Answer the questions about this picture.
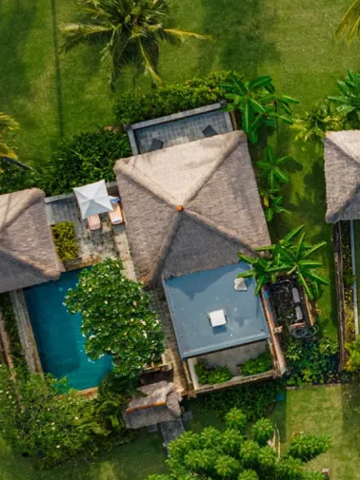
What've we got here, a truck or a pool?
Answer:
pool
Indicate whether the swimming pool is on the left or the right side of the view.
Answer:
left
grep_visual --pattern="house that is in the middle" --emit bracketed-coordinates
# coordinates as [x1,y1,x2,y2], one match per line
[117,131,294,402]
